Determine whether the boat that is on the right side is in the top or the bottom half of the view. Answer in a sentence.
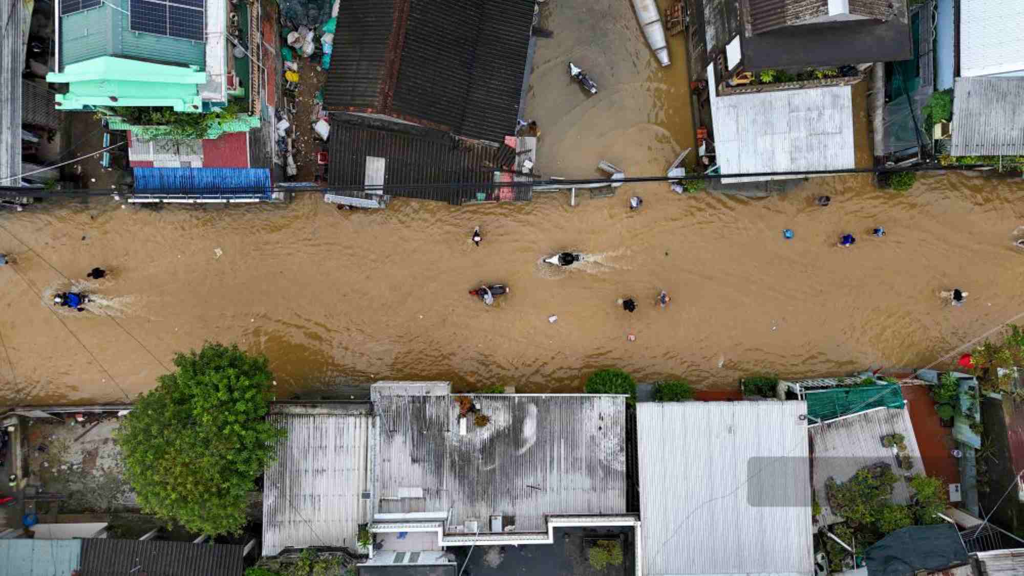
The boat that is on the right side sits in the top half of the picture.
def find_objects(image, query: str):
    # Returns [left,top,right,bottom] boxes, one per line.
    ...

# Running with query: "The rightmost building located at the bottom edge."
[629,400,814,576]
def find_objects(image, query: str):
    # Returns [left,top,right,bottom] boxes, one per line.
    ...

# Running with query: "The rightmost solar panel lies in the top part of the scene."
[129,0,205,43]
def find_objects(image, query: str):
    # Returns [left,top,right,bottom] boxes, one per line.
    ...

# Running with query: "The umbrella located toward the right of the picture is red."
[951,356,972,369]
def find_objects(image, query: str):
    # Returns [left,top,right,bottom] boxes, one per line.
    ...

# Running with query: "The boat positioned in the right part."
[635,0,672,67]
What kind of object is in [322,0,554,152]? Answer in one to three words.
house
